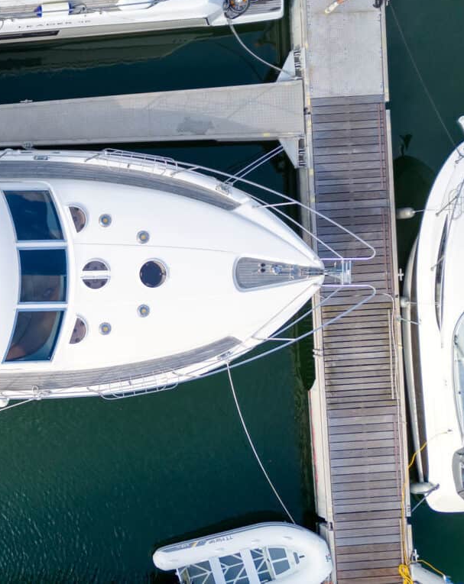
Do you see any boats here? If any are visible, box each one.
[0,147,377,400]
[159,524,330,584]
[0,0,283,42]
[403,117,464,513]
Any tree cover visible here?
No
